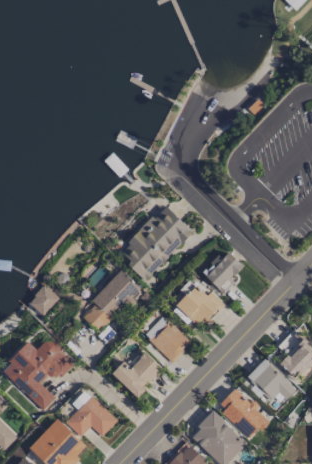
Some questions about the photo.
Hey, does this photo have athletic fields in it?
No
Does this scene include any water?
Yes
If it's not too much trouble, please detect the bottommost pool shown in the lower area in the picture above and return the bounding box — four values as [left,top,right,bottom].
[241,451,256,464]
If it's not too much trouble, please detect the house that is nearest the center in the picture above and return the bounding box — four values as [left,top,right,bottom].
[122,206,193,281]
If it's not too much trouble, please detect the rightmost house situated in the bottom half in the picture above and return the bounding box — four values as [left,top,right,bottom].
[280,334,312,376]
